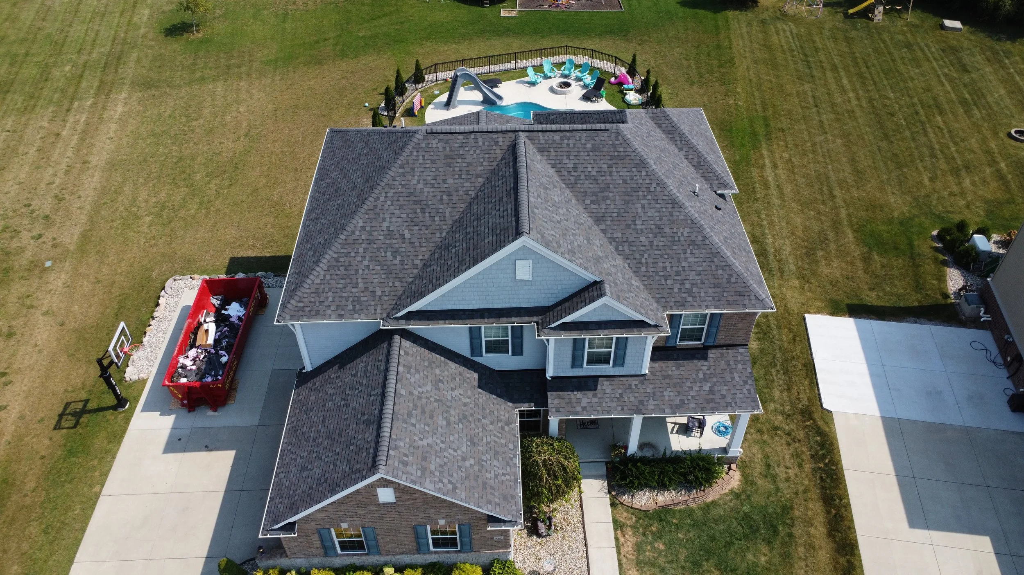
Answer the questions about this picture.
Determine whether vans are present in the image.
No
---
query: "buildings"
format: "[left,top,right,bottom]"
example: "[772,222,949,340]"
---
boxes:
[257,106,776,575]
[981,217,1024,390]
